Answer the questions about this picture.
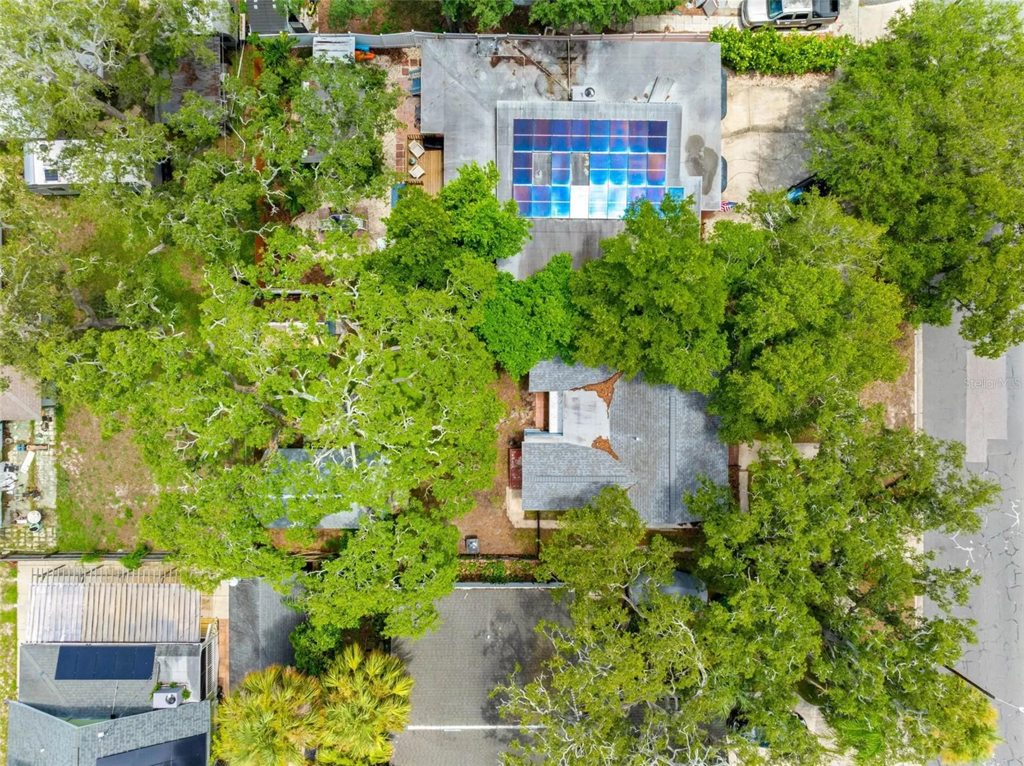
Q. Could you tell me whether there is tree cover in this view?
Yes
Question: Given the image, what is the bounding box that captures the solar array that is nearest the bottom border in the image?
[97,735,206,766]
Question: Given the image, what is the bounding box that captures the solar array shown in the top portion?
[514,118,686,220]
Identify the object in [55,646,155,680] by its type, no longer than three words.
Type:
solar array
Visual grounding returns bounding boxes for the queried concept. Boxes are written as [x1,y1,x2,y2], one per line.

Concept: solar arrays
[55,646,155,680]
[97,735,206,766]
[514,118,686,220]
